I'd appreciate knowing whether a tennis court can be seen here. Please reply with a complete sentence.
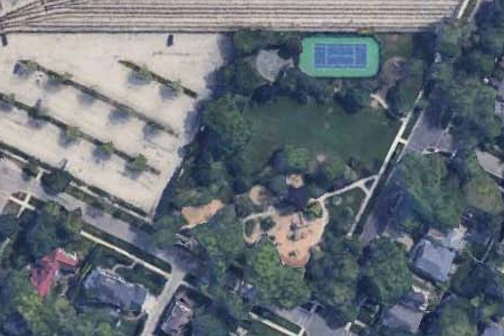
Yes, this view includes a tennis court.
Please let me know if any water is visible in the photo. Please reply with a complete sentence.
No, the scene doesn't show any water.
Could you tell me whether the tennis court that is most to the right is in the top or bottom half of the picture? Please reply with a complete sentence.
You can find the tennis court that is most to the right in the top half.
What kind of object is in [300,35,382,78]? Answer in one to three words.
tennis court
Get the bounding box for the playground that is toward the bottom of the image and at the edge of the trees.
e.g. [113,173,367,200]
[273,213,324,266]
